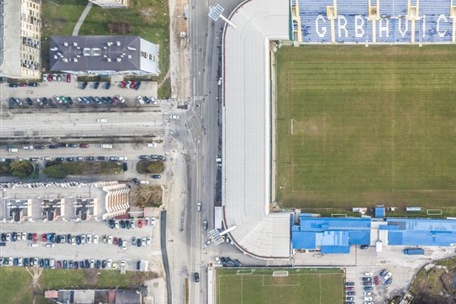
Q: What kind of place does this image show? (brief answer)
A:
sports ground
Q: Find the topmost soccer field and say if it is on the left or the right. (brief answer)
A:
right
